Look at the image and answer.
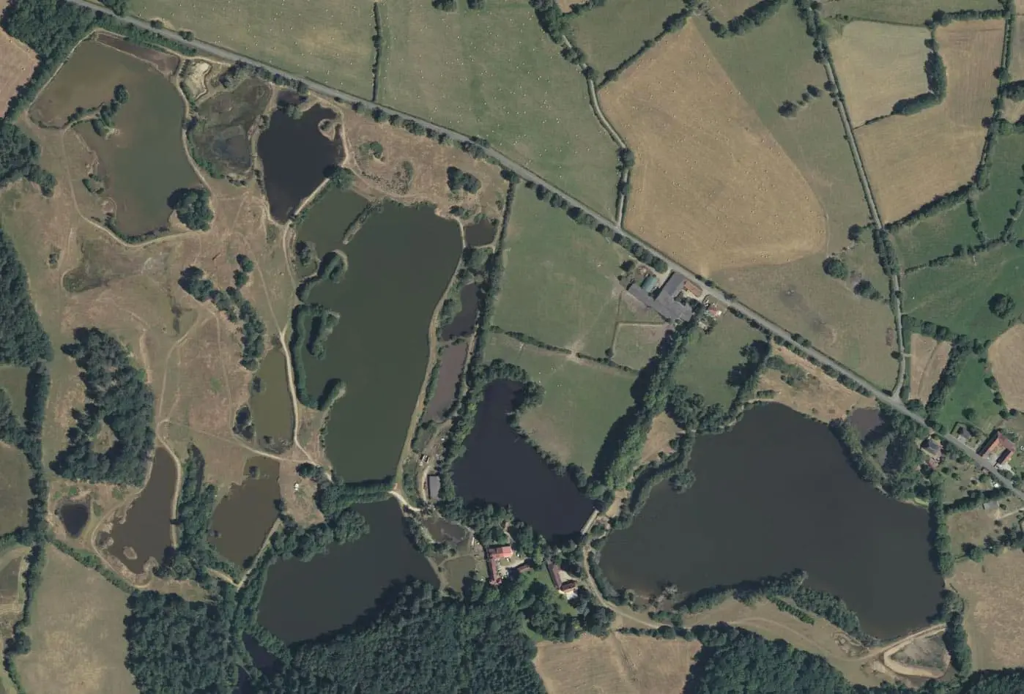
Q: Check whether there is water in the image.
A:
Yes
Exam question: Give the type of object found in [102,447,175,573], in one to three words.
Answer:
pond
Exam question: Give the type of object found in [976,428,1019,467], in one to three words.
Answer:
house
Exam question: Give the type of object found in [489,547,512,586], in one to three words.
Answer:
house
